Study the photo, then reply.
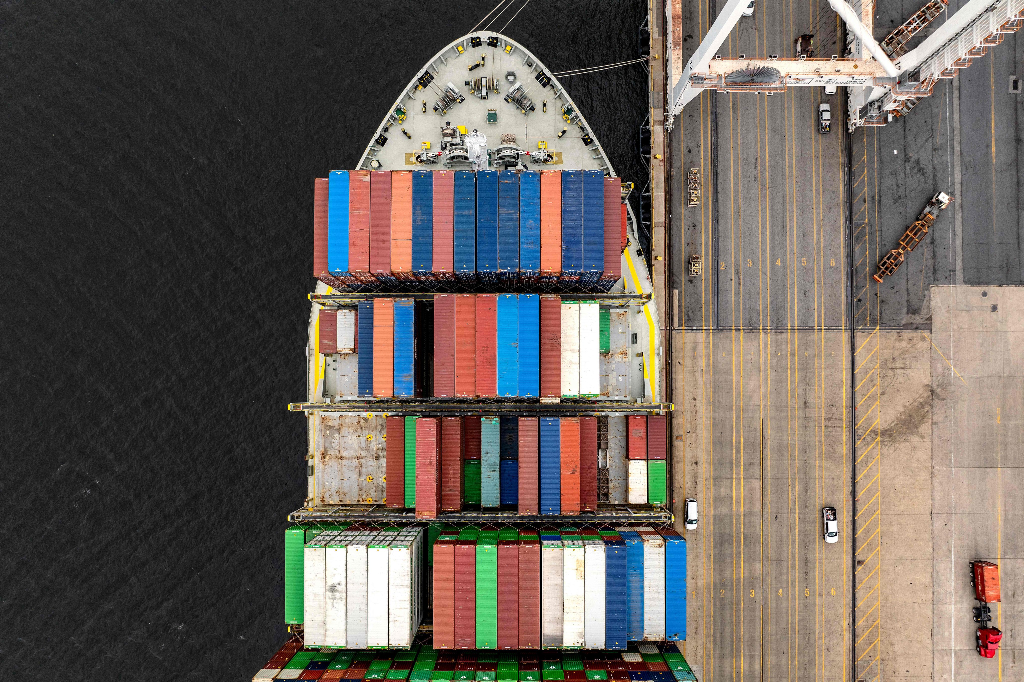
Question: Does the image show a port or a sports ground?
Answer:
port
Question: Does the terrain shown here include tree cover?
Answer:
No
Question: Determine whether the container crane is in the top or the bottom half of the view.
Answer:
top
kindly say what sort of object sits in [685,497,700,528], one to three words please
vehicle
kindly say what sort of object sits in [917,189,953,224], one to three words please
work vehicle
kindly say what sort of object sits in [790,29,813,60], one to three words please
truck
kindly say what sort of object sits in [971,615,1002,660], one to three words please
truck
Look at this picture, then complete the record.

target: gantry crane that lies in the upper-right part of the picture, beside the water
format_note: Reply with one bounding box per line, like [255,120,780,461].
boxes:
[663,0,1024,142]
